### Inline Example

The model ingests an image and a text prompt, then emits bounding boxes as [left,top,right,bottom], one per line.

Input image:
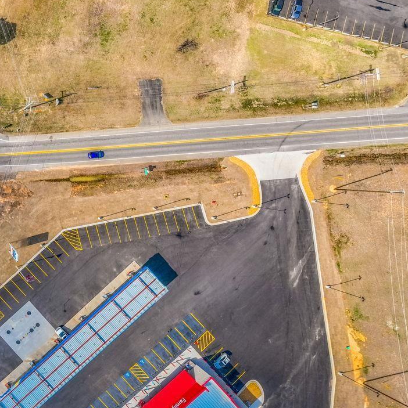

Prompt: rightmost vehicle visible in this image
[289,0,302,19]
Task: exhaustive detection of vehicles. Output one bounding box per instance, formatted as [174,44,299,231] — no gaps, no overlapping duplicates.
[88,151,105,158]
[213,351,232,368]
[289,0,302,19]
[55,325,66,338]
[271,0,282,14]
